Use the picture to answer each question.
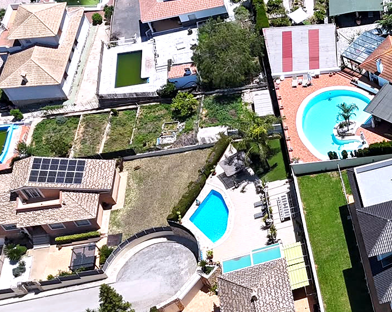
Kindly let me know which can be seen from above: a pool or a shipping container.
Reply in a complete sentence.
It is a pool that can be seen here.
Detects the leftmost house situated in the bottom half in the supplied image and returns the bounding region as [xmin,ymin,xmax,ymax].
[0,155,122,243]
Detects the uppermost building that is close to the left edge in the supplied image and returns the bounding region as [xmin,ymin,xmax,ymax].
[0,1,89,102]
